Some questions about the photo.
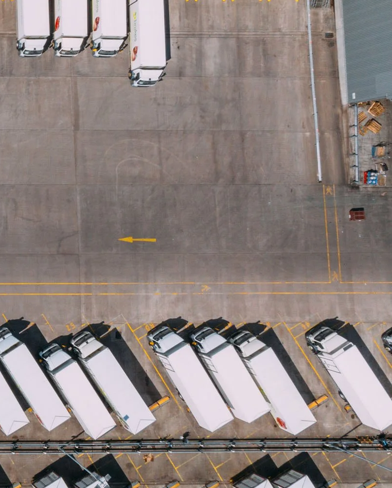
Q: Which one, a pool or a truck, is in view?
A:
truck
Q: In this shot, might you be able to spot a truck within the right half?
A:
Yes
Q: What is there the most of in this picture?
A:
paved ground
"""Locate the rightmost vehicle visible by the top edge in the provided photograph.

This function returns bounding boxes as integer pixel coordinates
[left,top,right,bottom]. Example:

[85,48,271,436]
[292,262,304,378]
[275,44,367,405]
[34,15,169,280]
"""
[126,0,166,91]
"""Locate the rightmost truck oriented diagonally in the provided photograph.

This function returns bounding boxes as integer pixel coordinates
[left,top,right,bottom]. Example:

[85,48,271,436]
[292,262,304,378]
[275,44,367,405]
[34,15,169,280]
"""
[303,325,392,431]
